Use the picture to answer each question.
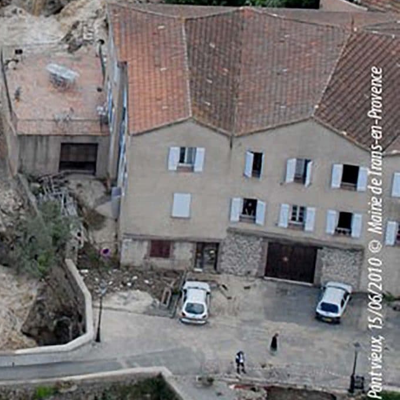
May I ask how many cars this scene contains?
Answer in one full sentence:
There are 2 cars in the image.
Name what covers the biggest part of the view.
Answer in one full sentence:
The largest share of the image is taken up by buildings.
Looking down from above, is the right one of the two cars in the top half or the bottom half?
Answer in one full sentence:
The bottom half of the photo is where the right one of the two cars is.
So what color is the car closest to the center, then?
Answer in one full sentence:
In this view, the car closest to the center is white.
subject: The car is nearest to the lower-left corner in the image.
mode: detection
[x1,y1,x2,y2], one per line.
[180,285,214,331]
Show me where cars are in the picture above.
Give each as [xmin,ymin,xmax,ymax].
[312,282,356,335]
[180,285,214,331]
